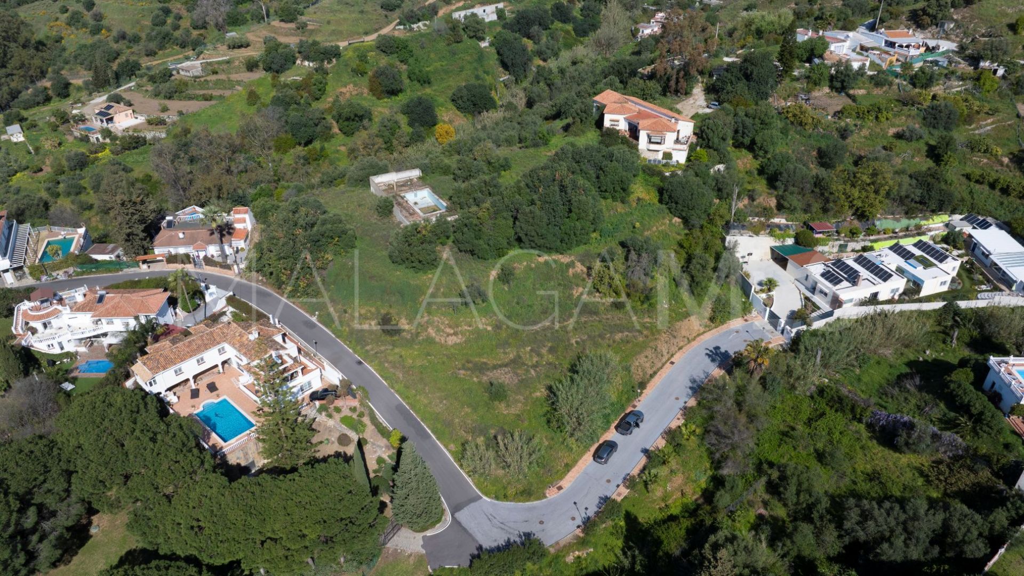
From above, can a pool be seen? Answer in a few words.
Yes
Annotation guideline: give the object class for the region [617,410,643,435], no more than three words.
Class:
truck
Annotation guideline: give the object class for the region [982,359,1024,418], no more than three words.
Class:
building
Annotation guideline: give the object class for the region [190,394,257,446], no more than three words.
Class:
swimming pool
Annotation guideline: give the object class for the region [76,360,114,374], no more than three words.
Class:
swimming pool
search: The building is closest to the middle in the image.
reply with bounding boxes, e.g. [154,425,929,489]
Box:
[370,174,423,200]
